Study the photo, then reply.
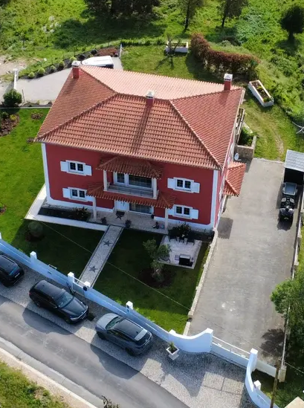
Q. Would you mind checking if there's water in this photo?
No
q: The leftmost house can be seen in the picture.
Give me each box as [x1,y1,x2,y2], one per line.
[32,63,248,237]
